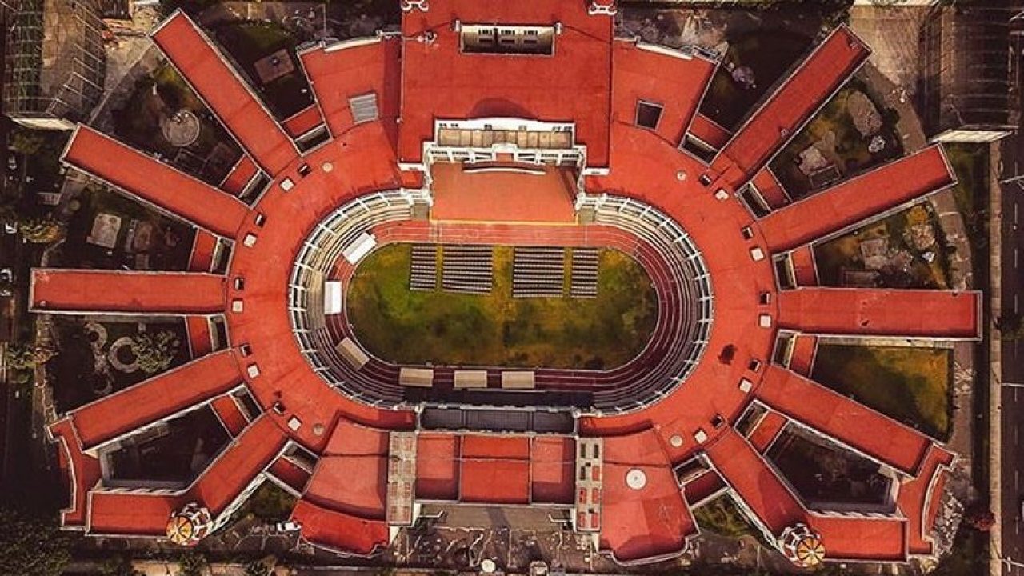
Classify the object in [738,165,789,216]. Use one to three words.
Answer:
building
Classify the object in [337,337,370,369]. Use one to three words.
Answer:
tent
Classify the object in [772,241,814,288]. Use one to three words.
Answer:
building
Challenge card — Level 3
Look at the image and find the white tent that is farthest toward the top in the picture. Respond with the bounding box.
[344,232,376,264]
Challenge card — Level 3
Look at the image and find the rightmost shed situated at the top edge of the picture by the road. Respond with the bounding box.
[930,0,1012,142]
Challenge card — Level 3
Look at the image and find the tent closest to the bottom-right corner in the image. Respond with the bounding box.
[502,370,534,389]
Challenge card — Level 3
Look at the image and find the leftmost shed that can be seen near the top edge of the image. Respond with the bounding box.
[2,0,79,128]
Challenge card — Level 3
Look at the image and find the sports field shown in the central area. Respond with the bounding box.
[348,242,657,371]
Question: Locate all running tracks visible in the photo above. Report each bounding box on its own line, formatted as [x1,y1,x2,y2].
[323,217,683,396]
